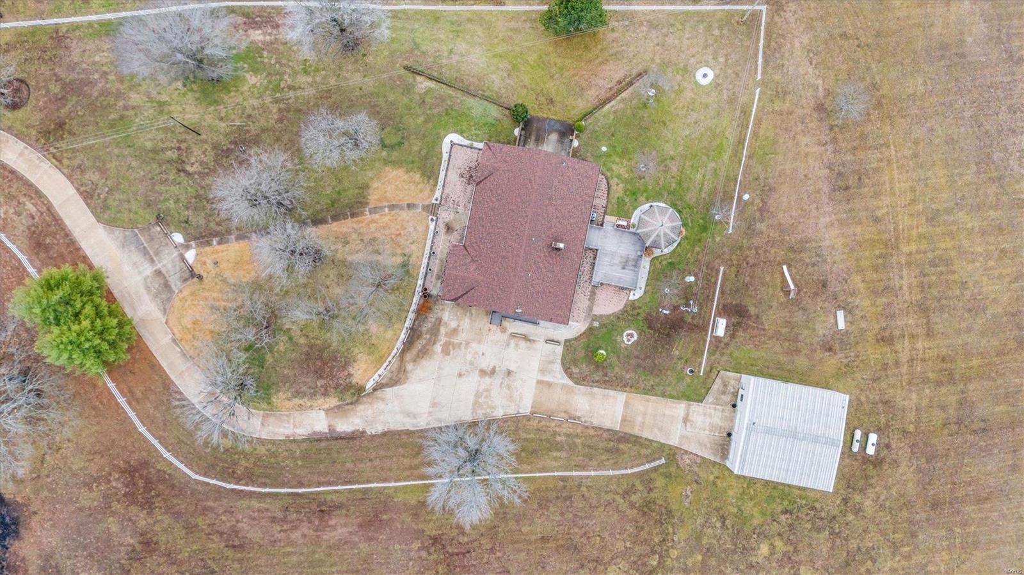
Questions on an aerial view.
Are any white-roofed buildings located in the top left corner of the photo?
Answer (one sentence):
No, no white-roofed building appears in the top left corner of the photo.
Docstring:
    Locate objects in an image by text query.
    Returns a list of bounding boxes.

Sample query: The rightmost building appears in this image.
[727,374,852,494]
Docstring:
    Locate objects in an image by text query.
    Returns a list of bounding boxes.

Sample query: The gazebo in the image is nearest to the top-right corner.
[635,205,682,249]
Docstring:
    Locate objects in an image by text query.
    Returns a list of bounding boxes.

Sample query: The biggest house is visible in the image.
[443,141,601,325]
